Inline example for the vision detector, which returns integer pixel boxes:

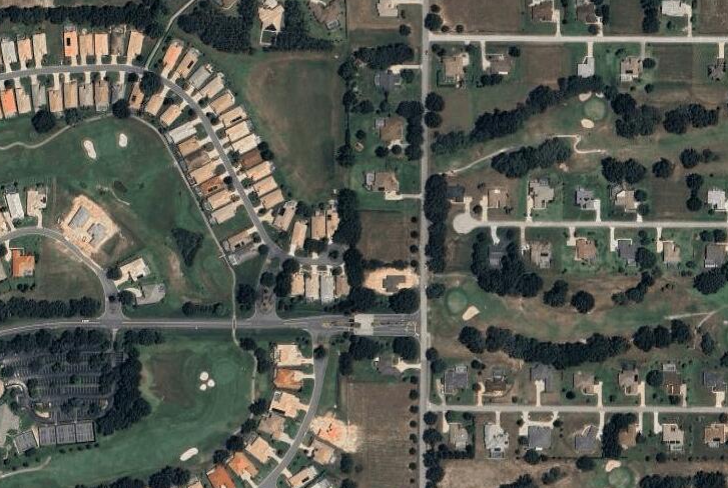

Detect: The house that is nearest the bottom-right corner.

[705,427,725,448]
